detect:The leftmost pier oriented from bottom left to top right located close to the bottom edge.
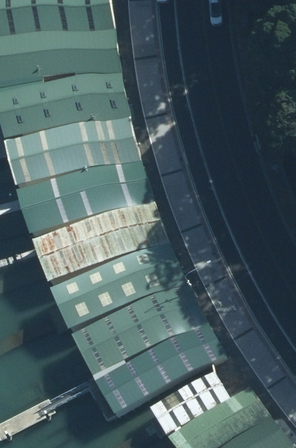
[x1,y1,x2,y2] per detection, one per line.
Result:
[0,400,59,444]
